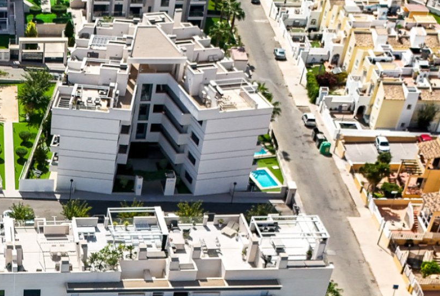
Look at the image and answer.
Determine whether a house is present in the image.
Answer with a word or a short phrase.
Yes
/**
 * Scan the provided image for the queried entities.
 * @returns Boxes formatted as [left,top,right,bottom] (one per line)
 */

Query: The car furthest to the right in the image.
[373,136,394,151]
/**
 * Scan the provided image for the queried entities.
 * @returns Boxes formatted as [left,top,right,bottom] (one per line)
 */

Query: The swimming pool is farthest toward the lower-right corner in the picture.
[255,167,281,186]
